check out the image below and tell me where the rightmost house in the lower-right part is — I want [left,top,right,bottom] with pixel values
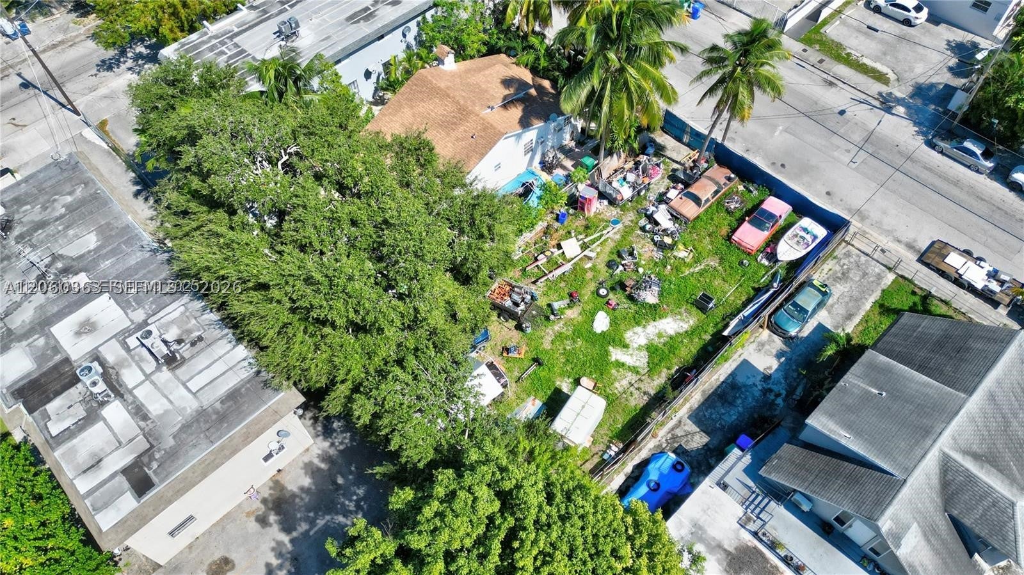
[762,307,1024,575]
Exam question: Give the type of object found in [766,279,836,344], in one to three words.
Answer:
car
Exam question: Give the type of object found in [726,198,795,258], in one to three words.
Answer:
car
